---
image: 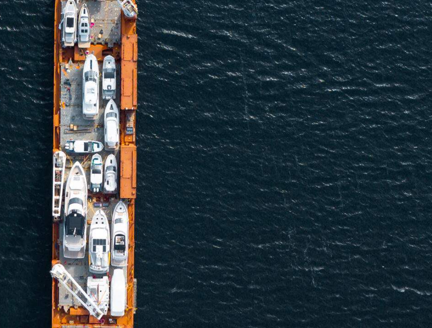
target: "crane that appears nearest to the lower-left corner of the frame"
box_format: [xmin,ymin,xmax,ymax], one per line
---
[52,264,104,319]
